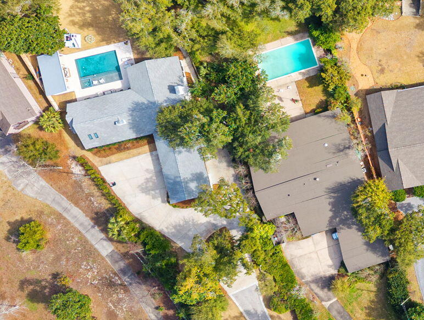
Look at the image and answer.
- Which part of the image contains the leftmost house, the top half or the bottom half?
top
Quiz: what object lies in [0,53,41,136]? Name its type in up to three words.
house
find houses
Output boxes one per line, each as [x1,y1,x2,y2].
[367,85,424,190]
[66,56,213,204]
[248,108,391,273]
[0,53,41,136]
